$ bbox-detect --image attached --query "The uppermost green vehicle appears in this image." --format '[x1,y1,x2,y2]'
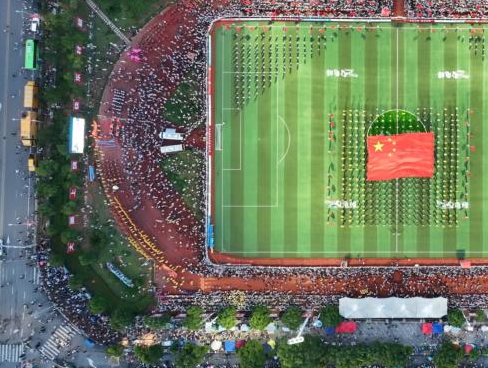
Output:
[26,38,40,70]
